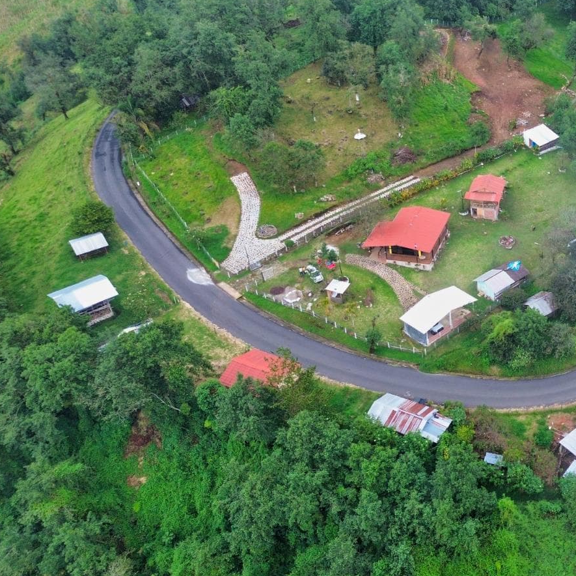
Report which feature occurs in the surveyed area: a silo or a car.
car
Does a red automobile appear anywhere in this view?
No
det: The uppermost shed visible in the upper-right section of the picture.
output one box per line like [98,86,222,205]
[523,124,559,154]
